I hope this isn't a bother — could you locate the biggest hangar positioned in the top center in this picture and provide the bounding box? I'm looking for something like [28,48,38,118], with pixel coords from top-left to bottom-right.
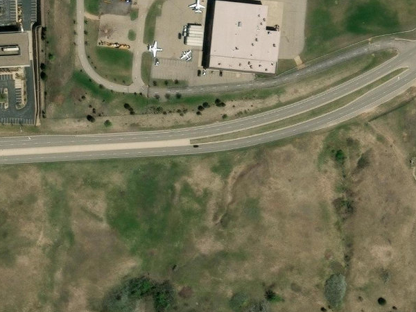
[209,1,280,76]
